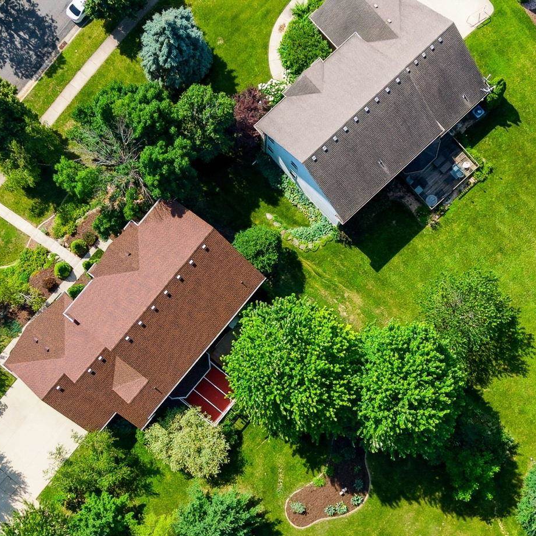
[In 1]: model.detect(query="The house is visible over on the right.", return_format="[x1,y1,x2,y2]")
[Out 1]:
[254,0,499,229]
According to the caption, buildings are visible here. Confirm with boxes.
[254,0,499,229]
[3,200,266,437]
